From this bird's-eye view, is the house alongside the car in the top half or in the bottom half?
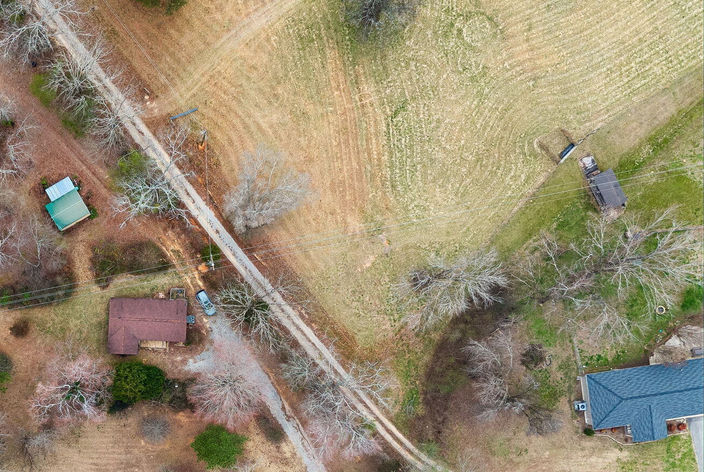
bottom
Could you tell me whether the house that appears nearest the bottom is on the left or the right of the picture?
right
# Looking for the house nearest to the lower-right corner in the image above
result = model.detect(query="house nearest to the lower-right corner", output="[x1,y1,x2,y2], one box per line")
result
[580,359,704,442]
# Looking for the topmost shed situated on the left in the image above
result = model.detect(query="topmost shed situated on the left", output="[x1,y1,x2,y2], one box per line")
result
[40,178,90,231]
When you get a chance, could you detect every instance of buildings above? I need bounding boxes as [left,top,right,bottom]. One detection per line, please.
[580,359,704,442]
[580,168,626,212]
[40,178,90,231]
[108,298,188,356]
